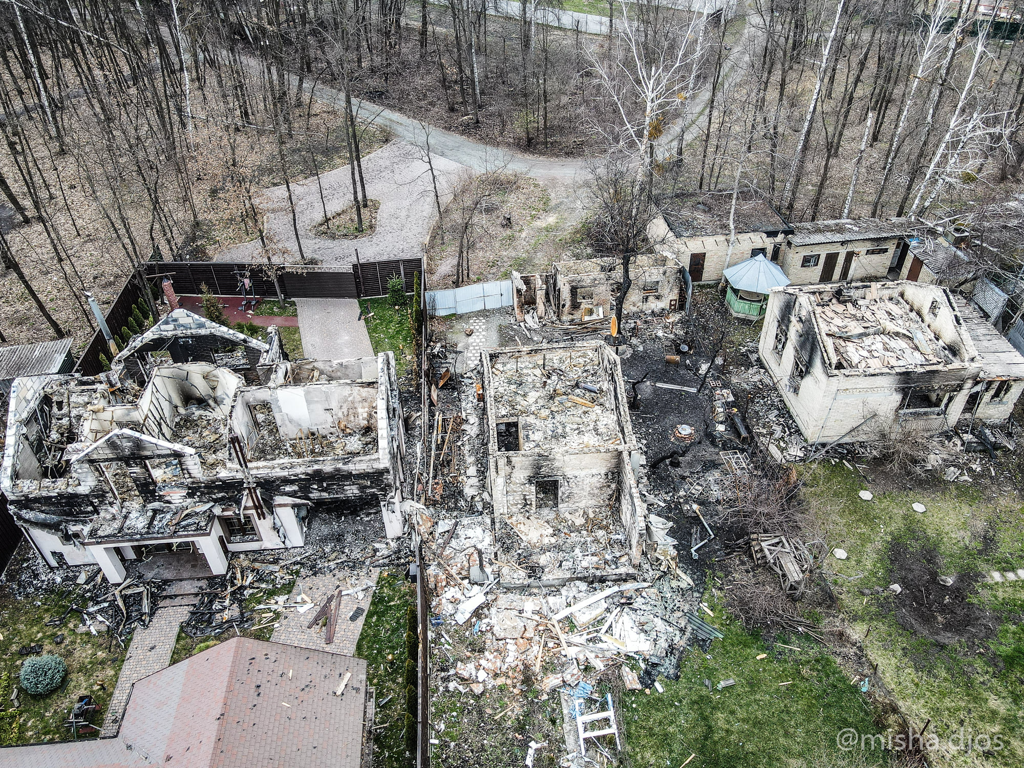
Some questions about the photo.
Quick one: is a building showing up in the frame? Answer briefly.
Yes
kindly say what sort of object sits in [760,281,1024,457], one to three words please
house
